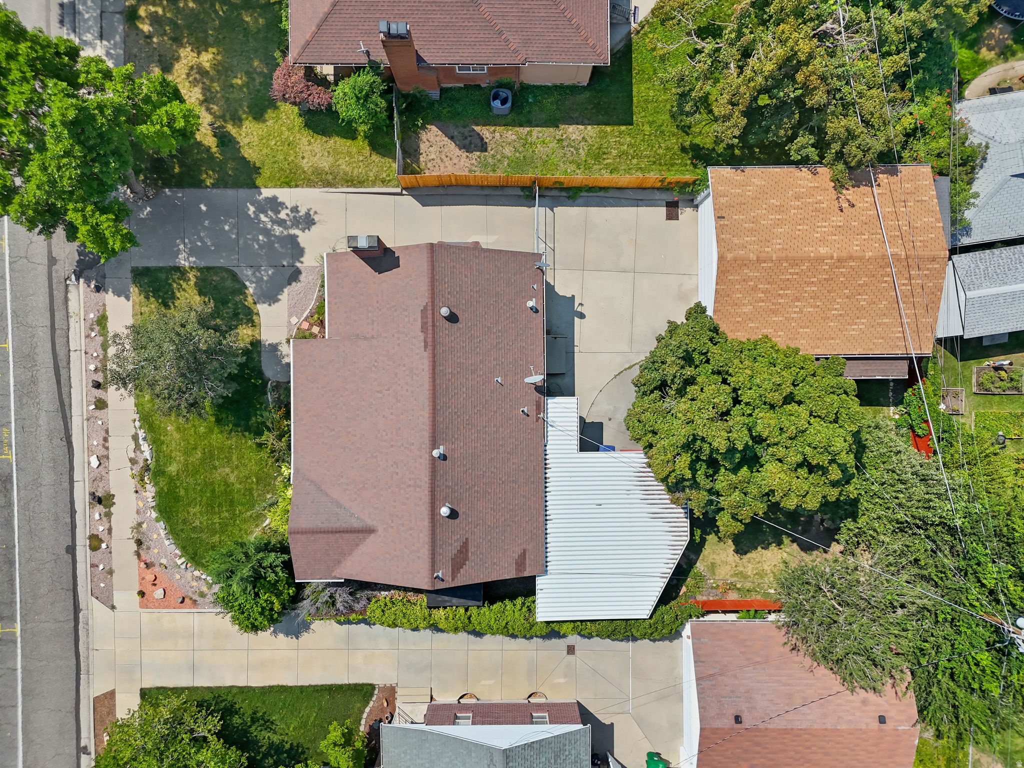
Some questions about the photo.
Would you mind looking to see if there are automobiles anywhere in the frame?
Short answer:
No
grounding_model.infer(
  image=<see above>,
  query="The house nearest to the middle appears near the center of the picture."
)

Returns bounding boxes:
[287,235,548,608]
